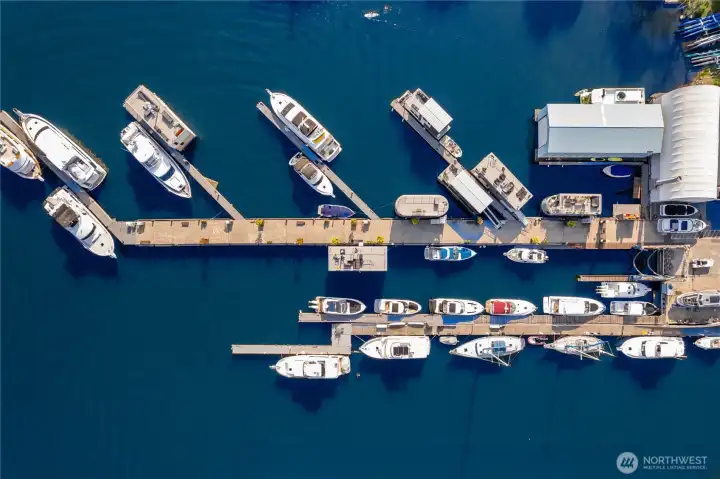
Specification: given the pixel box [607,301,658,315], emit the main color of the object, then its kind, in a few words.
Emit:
white boat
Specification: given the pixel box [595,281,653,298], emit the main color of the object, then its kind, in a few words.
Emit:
white boat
